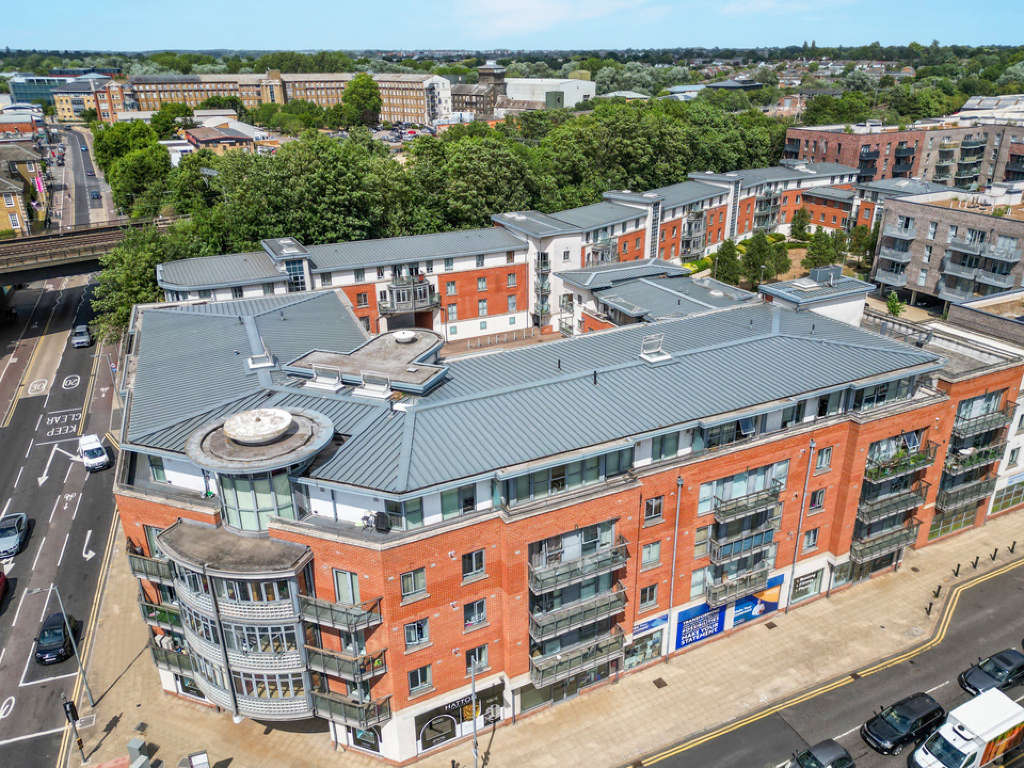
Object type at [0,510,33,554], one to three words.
car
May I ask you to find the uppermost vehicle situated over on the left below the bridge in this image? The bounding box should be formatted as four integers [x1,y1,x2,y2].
[70,324,90,345]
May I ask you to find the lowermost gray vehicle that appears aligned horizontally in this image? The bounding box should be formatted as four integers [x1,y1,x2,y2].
[787,732,868,768]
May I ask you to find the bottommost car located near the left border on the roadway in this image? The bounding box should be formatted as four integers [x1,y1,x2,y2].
[36,607,80,663]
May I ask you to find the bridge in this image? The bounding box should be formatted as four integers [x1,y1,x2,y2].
[0,220,166,287]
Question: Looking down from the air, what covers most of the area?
buildings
